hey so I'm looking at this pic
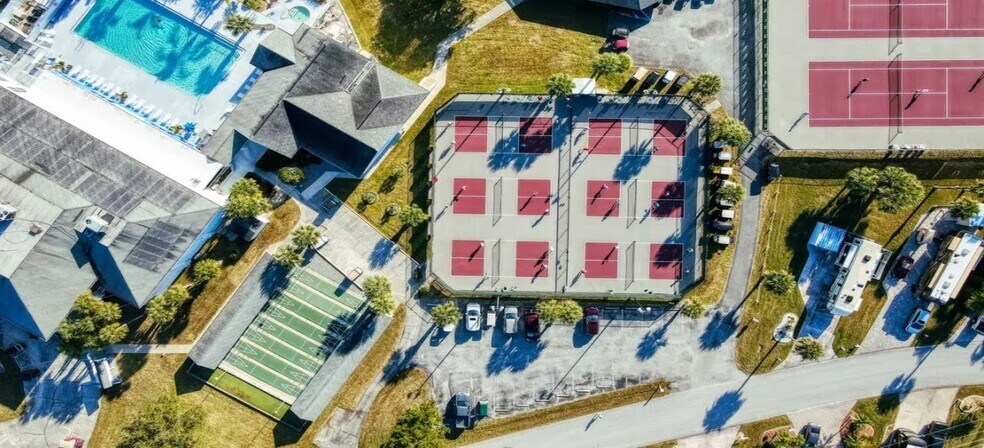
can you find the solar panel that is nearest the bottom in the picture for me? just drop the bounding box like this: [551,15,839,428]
[125,219,188,271]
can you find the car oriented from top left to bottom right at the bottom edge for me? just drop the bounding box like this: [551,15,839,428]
[890,420,919,448]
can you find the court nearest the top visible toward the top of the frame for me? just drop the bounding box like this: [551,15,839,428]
[809,0,984,45]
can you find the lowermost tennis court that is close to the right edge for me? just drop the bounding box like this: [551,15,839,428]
[809,58,984,135]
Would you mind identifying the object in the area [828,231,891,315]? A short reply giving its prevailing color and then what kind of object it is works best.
white trailer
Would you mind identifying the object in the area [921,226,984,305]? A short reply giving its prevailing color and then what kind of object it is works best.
white camper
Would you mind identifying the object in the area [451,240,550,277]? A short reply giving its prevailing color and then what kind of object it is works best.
red sports court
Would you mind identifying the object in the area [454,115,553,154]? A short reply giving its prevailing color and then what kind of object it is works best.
red sports court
